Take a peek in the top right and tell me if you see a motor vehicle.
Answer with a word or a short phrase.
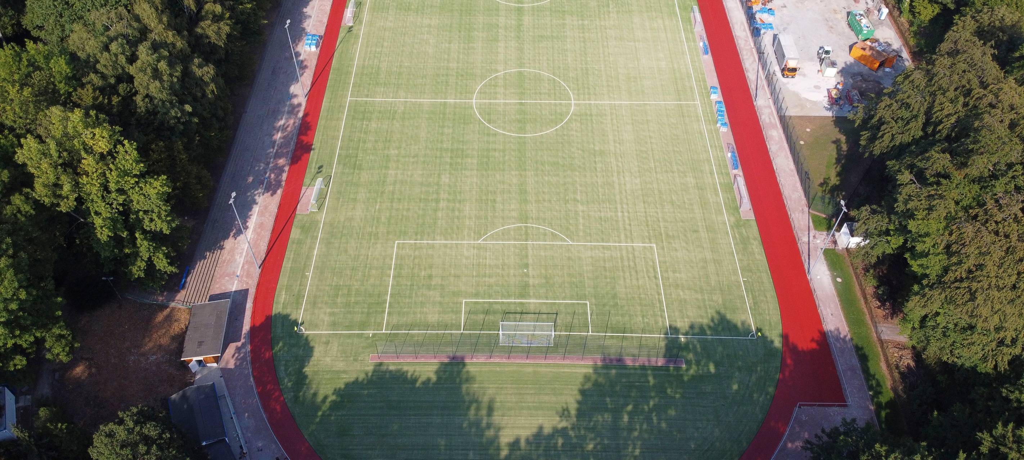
Yes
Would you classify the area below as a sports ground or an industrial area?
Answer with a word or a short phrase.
sports ground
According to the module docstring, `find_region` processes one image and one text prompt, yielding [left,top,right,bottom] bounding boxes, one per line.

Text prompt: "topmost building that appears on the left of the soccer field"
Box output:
[175,299,229,373]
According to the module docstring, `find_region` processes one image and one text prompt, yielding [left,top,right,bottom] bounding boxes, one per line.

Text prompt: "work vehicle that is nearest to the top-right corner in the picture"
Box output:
[817,48,831,64]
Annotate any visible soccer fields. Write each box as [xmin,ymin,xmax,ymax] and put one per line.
[271,0,781,460]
